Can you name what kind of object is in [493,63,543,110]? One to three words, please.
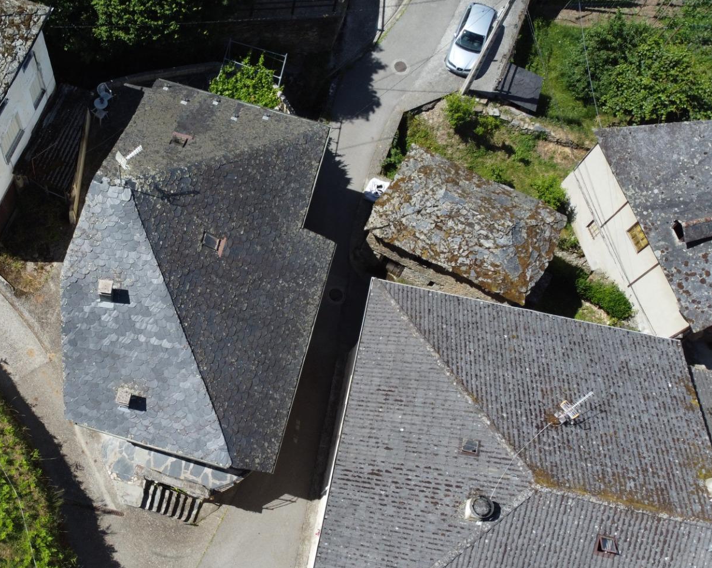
shed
